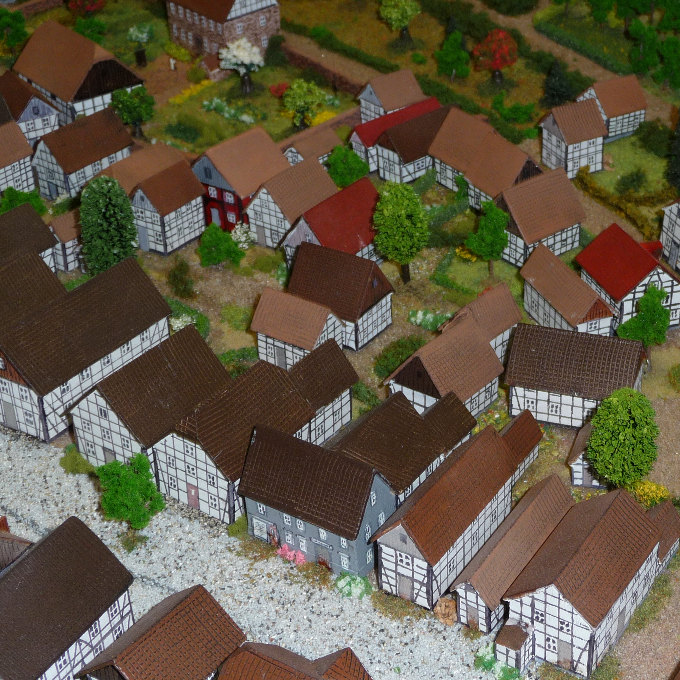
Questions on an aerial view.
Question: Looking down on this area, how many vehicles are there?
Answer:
0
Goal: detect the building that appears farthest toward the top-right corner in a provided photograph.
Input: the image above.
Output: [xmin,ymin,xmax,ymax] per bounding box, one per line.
[577,75,646,143]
